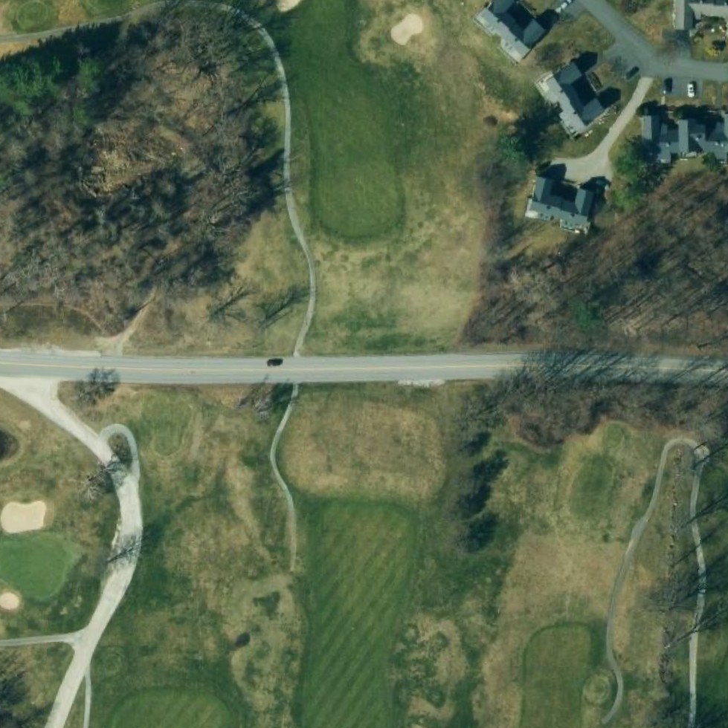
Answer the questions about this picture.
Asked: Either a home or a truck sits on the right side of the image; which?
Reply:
home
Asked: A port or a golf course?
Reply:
golf course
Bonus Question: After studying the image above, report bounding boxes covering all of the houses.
[673,0,728,29]
[526,174,596,235]
[474,0,549,65]
[642,111,728,163]
[535,53,608,138]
